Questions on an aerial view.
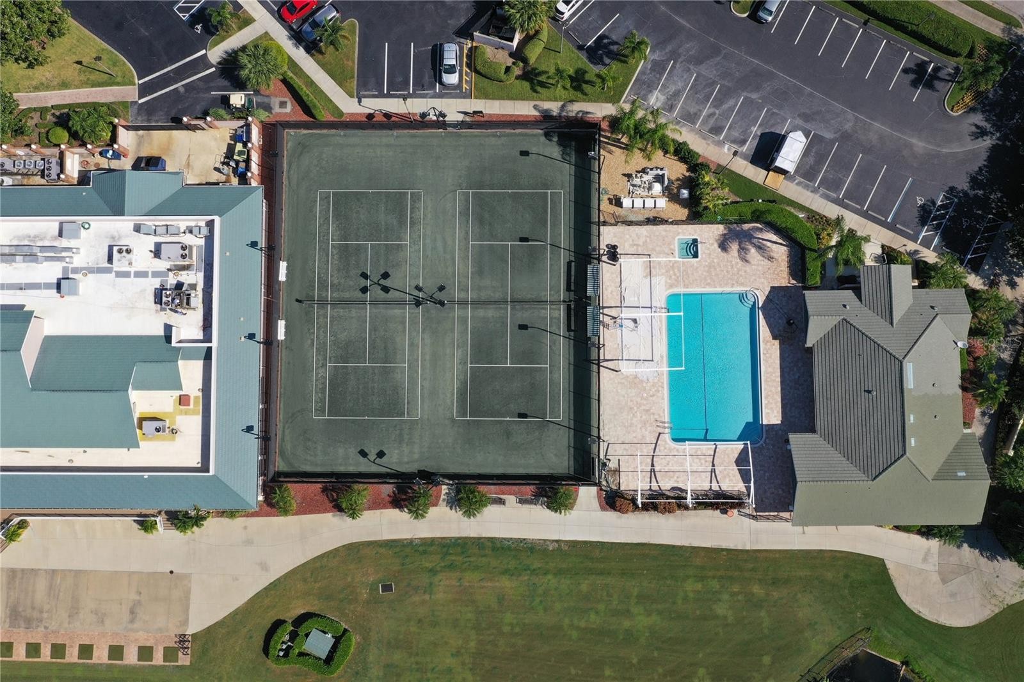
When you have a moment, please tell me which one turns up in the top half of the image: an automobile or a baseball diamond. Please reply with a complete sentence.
The feature located in the top half of the image is an automobile.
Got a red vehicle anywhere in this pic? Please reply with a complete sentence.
Yes, you can see a red vehicle in this photo.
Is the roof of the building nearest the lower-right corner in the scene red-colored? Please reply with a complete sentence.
No, the color of the roof of the building nearest the lower-right corner is gray.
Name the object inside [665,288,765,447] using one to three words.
swimming pool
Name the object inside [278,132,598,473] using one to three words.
tennis court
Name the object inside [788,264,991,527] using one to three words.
building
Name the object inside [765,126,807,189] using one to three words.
trailer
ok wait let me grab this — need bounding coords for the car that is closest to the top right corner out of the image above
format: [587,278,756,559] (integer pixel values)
[755,0,784,26]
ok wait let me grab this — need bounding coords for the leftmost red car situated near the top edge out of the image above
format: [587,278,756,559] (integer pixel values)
[283,0,327,24]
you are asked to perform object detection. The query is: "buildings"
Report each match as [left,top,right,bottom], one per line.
[304,627,337,660]
[0,171,270,528]
[788,264,991,527]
